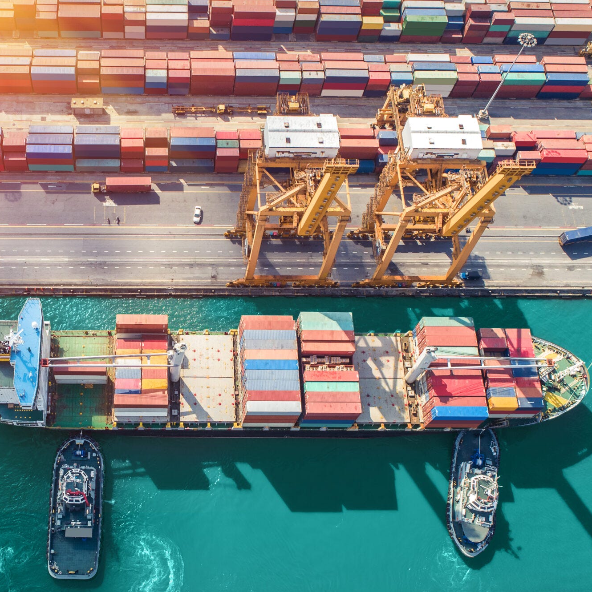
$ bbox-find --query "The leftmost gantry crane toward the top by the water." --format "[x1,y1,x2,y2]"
[221,80,364,288]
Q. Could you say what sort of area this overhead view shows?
port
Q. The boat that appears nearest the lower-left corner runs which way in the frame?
up and down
